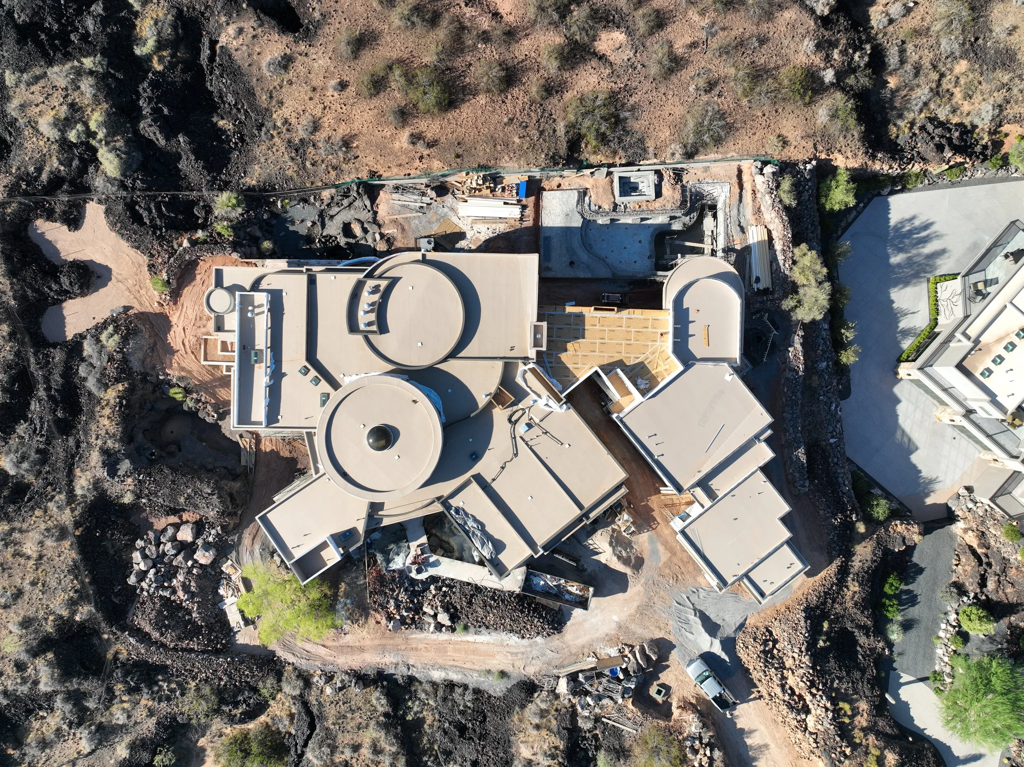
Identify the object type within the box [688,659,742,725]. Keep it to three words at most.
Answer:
truck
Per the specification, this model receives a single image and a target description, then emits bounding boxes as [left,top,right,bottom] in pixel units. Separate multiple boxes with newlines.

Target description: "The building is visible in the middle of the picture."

[205,250,810,606]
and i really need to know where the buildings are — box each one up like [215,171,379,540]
[900,218,1024,531]
[205,250,810,606]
